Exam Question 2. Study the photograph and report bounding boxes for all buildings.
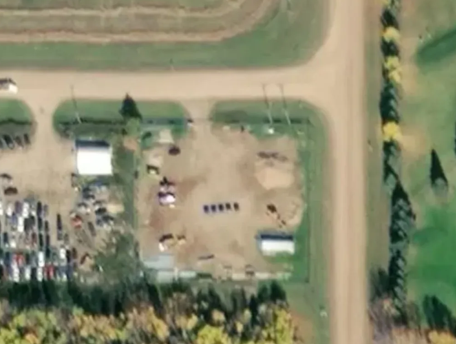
[77,144,113,181]
[261,240,295,257]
